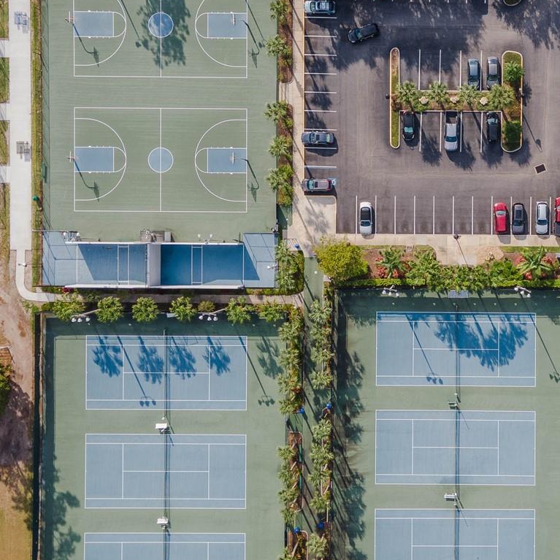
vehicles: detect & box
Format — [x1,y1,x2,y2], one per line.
[535,202,550,235]
[466,58,481,91]
[358,202,373,235]
[511,203,526,235]
[554,197,560,237]
[486,112,501,144]
[401,112,416,143]
[494,203,509,234]
[303,0,336,16]
[444,112,458,153]
[486,57,500,90]
[302,178,334,193]
[302,131,334,146]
